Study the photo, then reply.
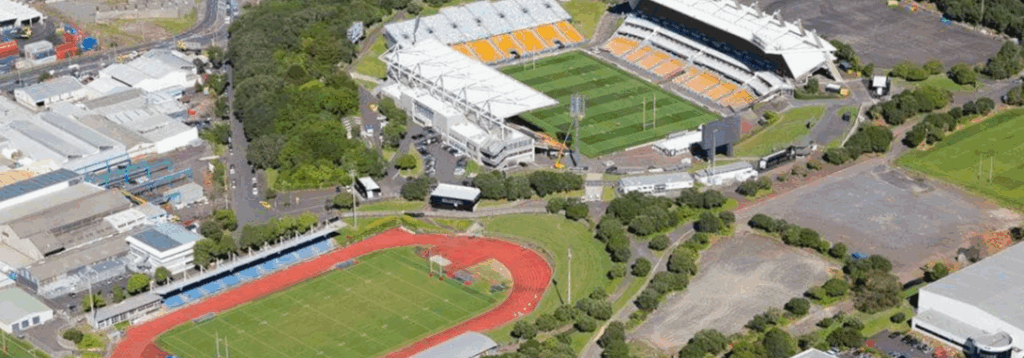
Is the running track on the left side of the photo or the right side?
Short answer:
left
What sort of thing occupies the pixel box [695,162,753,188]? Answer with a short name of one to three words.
building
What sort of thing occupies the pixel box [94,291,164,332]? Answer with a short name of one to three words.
building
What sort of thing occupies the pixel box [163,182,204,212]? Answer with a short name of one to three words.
shed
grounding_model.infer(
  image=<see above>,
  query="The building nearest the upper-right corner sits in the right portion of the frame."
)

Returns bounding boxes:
[866,76,897,98]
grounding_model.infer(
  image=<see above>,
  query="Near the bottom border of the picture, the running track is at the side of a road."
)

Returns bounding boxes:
[110,227,552,358]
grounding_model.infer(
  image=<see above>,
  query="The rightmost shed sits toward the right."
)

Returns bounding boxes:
[913,240,1024,358]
